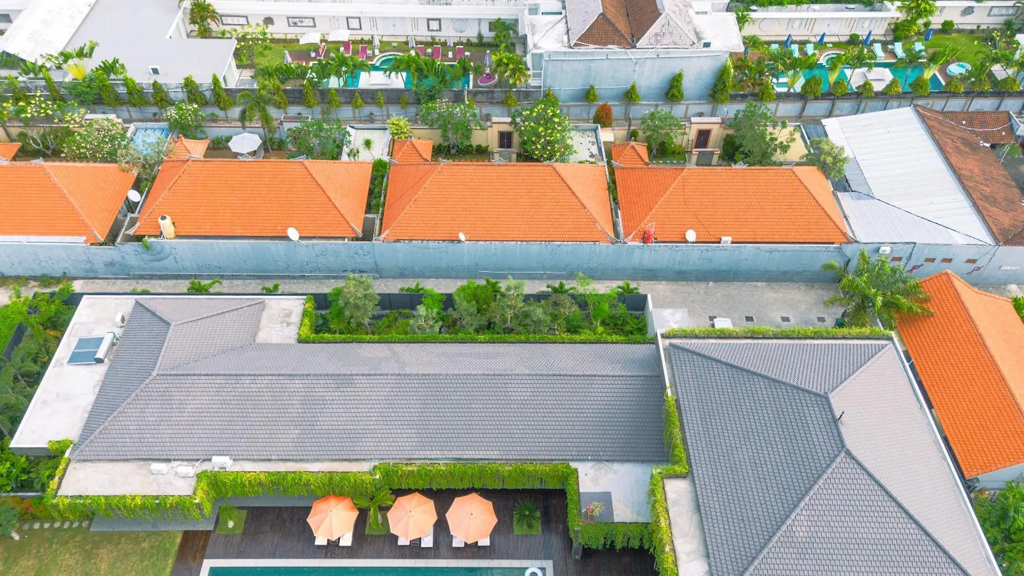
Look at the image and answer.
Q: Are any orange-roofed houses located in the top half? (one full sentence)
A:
Yes, the scene does show an orange-roofed house in the top half.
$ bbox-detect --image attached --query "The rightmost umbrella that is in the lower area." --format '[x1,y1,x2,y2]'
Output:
[445,492,498,542]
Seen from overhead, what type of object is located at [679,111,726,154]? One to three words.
building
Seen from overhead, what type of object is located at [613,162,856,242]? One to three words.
house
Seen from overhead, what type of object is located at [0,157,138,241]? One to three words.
house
